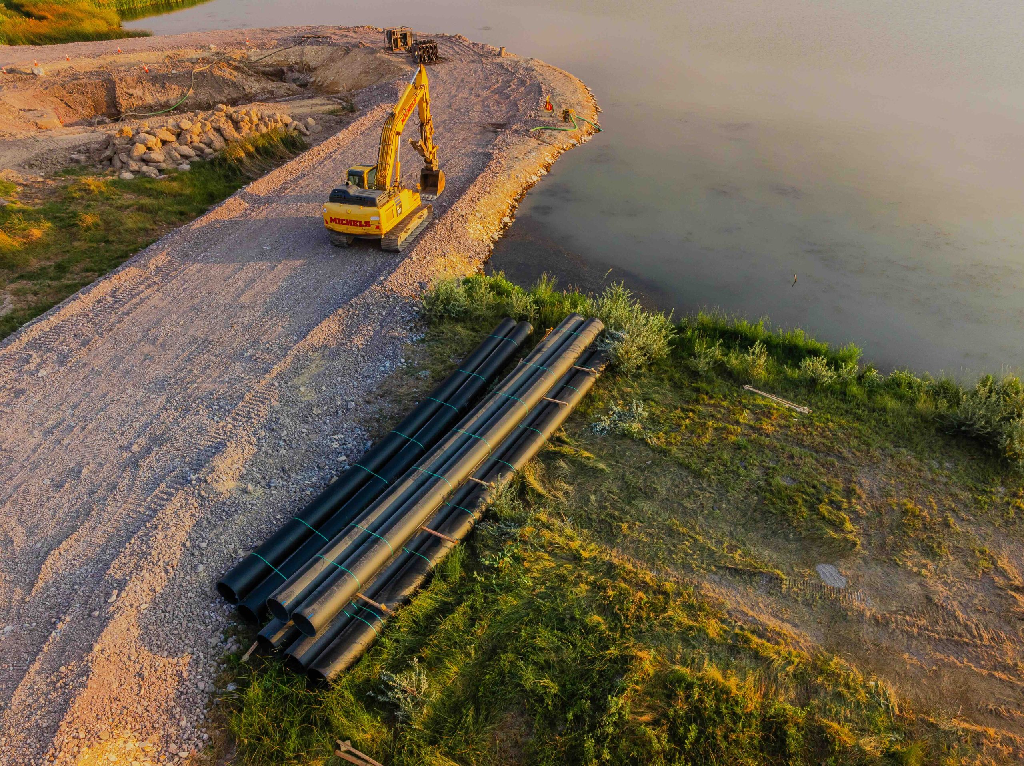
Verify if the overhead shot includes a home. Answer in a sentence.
No, there isn't any home down there.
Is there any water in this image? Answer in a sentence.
Yes, water shows up in the scene.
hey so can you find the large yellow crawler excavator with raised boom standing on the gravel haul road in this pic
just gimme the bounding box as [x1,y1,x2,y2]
[321,62,446,251]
